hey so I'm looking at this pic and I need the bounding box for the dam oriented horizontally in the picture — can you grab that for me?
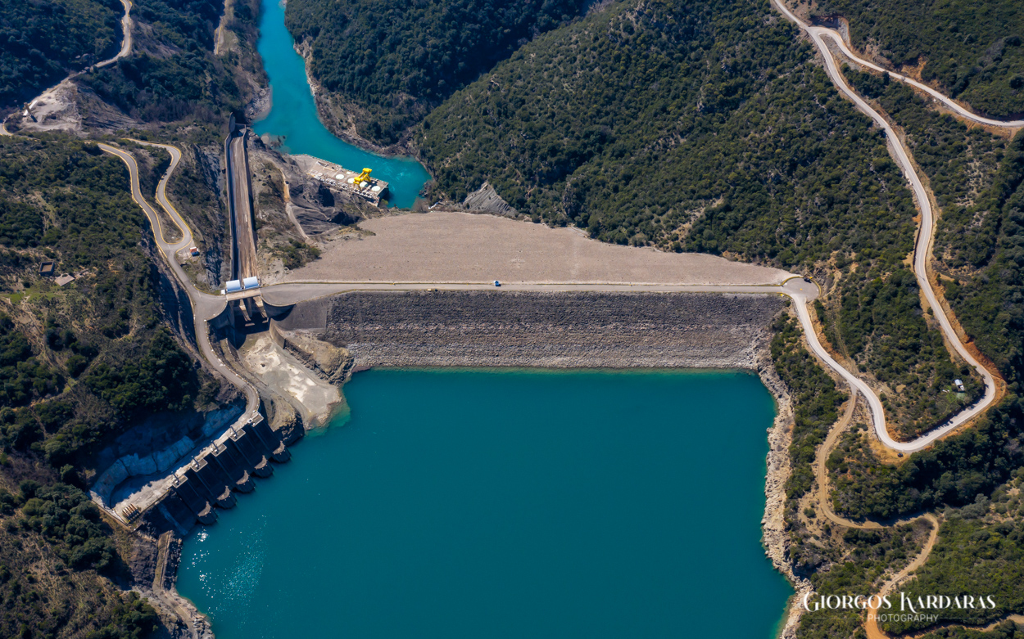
[261,212,789,372]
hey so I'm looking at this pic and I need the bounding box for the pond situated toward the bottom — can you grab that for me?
[178,368,790,639]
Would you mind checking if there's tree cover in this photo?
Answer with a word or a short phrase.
Yes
